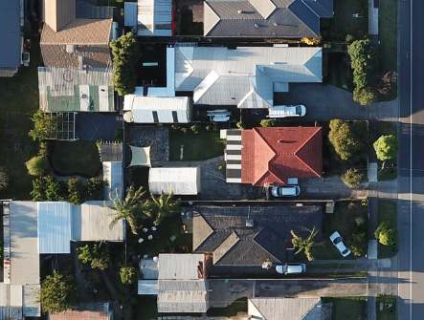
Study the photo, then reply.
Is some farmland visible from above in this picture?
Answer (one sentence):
No, the picture contains no farmland.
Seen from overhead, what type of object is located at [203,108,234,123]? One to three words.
car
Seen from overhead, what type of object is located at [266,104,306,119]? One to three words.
vehicle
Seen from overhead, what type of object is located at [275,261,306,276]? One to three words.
car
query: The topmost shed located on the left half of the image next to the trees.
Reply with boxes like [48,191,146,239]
[125,0,176,36]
